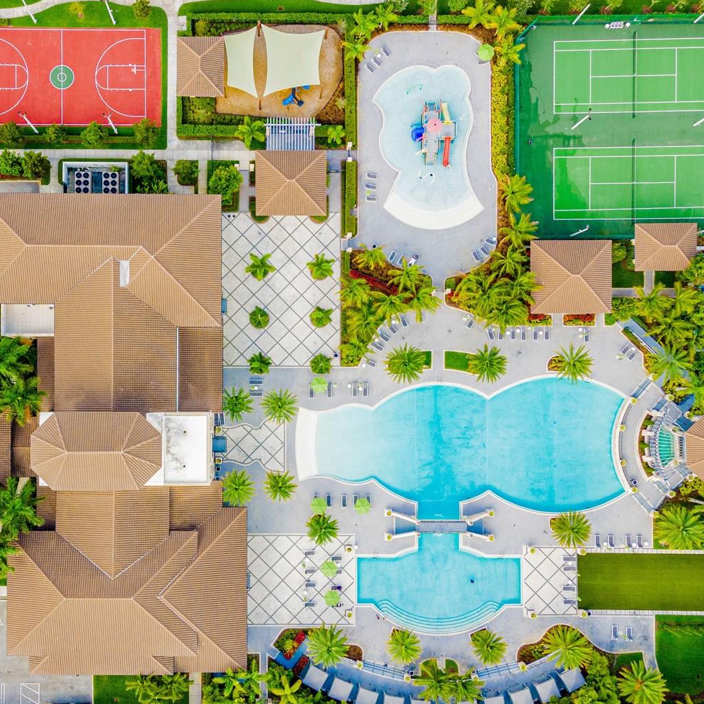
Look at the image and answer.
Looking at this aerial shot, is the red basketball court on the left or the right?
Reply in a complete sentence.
The red basketball court sits on the left side.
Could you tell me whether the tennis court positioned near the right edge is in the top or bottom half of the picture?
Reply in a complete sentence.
The tennis court positioned near the right edge is in the top half of the image.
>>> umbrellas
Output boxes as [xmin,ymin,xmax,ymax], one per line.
[310,496,327,512]
[353,496,370,513]
[310,376,327,394]
[323,588,341,605]
[320,558,337,576]
[475,45,494,62]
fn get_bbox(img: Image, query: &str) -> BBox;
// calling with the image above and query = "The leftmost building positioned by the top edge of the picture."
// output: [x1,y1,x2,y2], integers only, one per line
[175,35,226,101]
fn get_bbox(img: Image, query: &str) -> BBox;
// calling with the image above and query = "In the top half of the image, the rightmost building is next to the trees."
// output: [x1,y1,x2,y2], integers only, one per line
[626,222,699,272]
